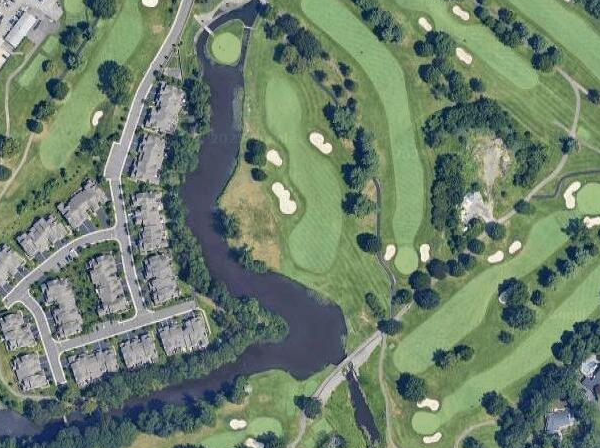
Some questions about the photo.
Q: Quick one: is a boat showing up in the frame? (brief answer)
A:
No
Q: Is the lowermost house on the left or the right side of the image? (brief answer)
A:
right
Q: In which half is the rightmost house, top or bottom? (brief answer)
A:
bottom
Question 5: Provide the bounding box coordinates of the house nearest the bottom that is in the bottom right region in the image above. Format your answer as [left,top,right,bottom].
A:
[544,406,575,432]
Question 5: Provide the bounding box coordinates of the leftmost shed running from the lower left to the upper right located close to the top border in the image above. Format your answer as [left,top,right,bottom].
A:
[2,11,38,47]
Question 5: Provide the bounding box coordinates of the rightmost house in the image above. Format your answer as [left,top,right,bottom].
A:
[580,372,600,401]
